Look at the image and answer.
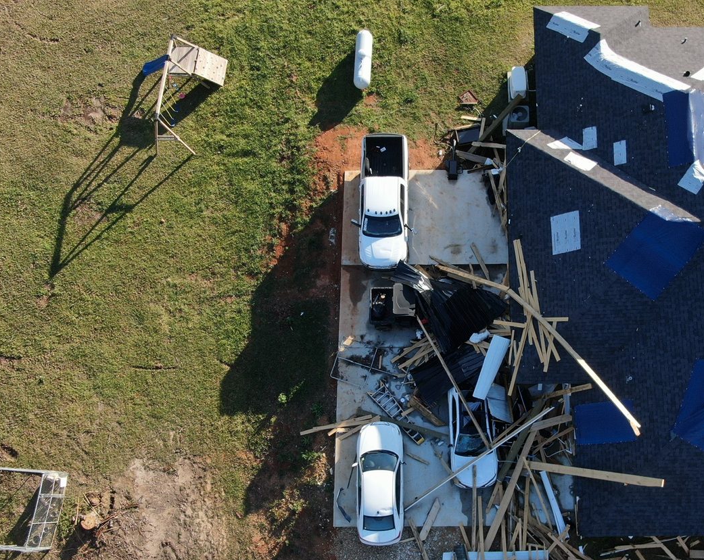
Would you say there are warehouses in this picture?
No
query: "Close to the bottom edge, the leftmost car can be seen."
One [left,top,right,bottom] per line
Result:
[351,421,410,550]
